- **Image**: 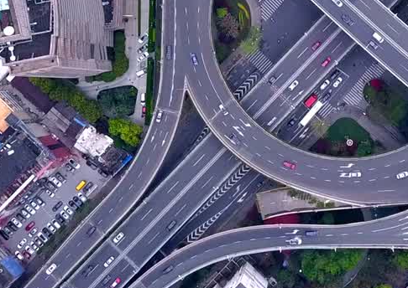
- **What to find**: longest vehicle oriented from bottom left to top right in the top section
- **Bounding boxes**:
[298,99,324,128]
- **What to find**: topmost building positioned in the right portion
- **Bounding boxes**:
[257,184,344,225]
